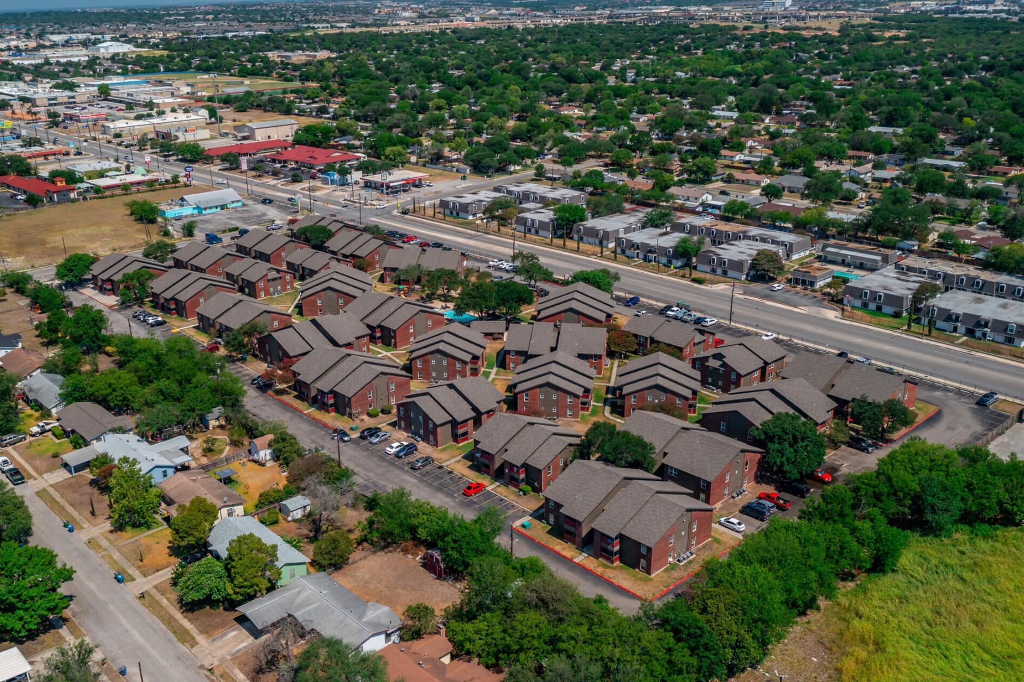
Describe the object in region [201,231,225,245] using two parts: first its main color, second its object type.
blue vehicle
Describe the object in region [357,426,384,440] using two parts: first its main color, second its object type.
black car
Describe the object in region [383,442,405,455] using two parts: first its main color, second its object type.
white vehicle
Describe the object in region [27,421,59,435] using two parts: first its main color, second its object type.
white vehicle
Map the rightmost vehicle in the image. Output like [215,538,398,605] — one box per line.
[976,392,999,407]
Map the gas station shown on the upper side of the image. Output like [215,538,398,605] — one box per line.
[352,167,441,194]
